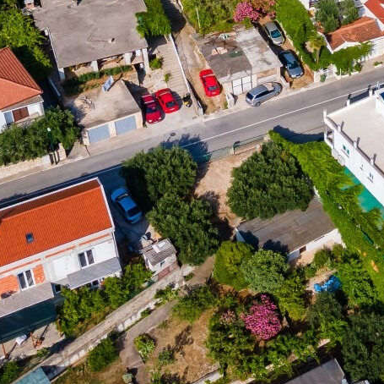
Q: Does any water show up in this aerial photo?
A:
No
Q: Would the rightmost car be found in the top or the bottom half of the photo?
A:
top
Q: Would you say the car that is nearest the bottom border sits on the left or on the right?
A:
left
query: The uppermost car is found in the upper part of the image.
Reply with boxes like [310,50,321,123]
[265,20,284,44]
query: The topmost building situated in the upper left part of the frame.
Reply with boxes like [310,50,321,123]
[37,0,150,87]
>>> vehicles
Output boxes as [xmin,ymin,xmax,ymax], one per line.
[157,86,182,113]
[265,20,284,44]
[200,69,219,96]
[246,83,283,103]
[112,188,140,220]
[180,96,193,106]
[141,94,162,120]
[282,51,302,76]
